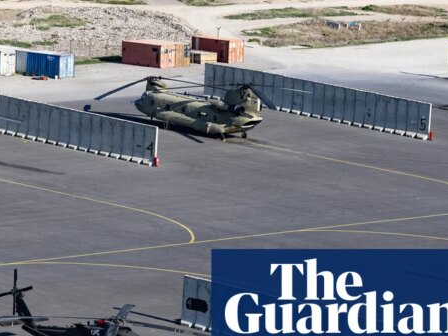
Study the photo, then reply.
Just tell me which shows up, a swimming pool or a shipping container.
shipping container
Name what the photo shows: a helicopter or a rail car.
helicopter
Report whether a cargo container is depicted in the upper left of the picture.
Yes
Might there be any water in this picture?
No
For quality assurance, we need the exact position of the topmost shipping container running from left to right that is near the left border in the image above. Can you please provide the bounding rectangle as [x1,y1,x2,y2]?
[15,46,75,77]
